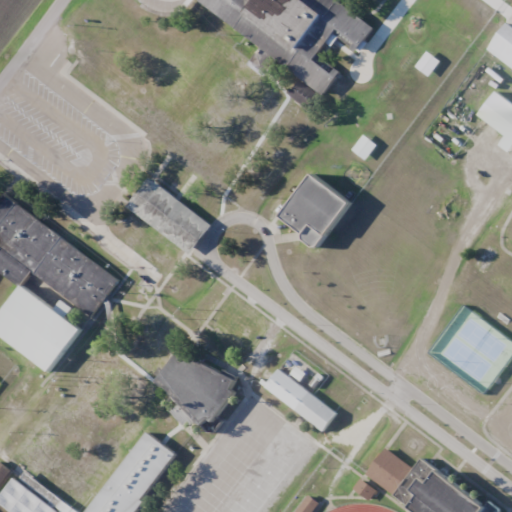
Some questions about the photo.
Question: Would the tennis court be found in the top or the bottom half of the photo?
bottom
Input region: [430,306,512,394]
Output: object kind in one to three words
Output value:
tennis court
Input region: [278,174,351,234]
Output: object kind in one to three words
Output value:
building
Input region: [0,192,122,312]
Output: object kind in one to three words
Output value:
building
